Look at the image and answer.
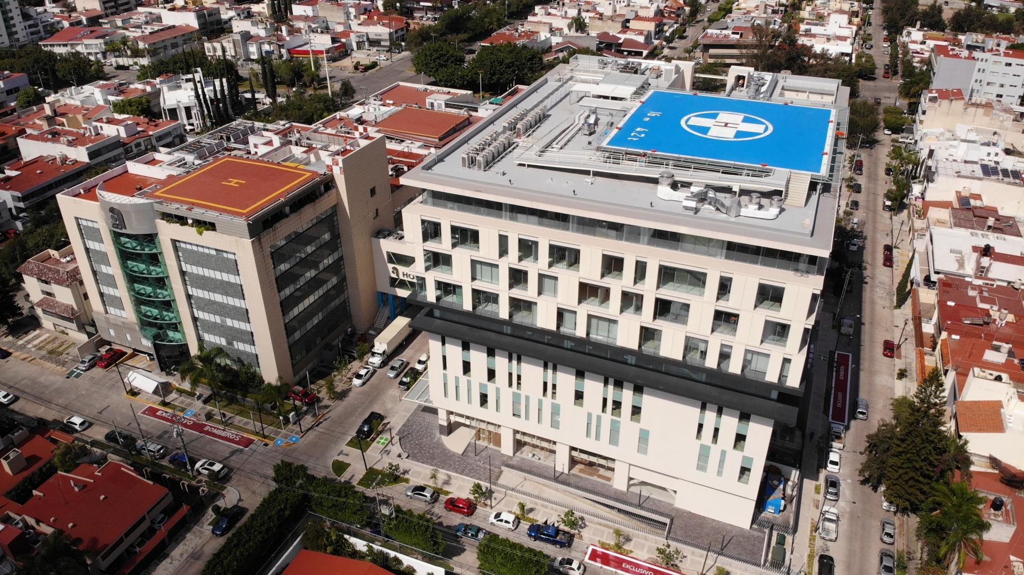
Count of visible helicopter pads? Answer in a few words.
two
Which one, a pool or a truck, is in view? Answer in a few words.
truck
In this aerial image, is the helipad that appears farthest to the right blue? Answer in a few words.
Yes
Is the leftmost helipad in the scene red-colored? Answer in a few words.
Yes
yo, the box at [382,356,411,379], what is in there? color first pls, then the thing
gray car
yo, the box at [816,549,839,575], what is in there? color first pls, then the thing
black car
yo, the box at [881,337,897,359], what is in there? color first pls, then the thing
red car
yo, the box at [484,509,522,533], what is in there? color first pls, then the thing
white car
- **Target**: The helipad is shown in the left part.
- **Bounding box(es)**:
[139,154,325,238]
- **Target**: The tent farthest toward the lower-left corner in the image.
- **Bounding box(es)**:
[125,369,176,406]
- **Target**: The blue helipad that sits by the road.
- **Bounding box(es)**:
[598,87,857,190]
